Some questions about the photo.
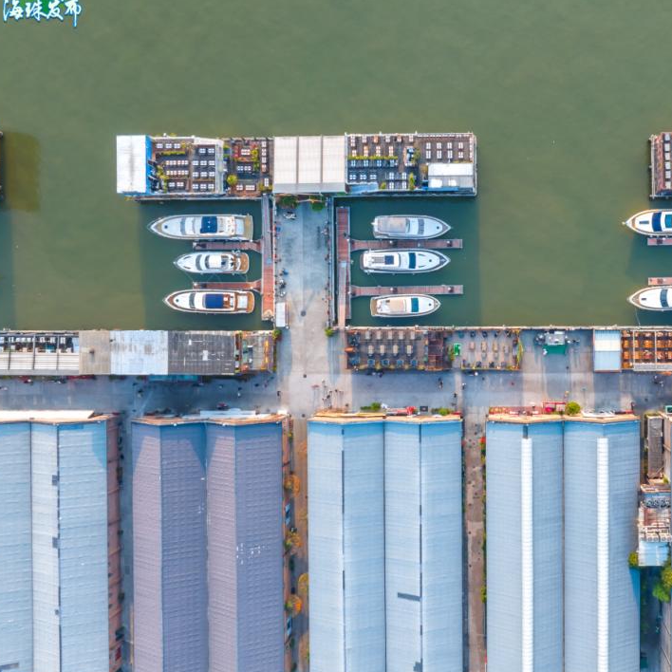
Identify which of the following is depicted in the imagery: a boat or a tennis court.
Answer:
boat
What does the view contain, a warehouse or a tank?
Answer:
warehouse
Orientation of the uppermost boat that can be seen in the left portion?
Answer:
from left to right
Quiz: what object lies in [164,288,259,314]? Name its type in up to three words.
boat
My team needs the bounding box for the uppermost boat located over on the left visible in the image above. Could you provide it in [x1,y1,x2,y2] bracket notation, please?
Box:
[151,214,257,241]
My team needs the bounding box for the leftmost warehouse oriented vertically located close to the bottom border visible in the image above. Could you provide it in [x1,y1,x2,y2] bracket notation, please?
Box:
[0,418,123,672]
